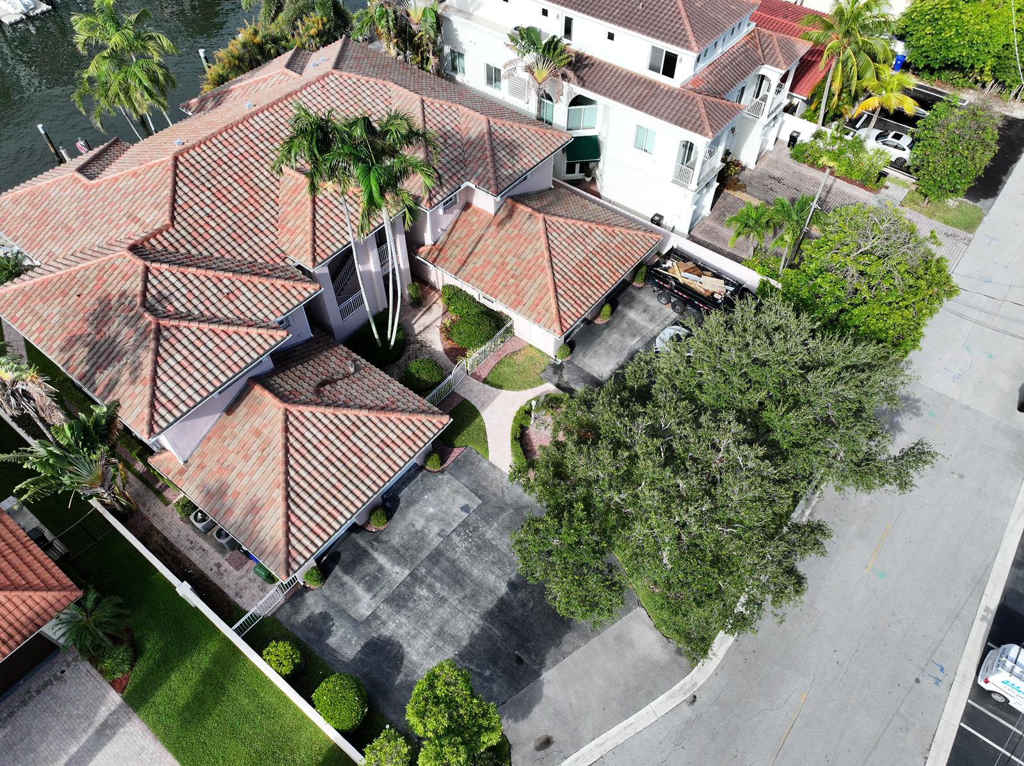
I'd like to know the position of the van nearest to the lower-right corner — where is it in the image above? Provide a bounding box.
[972,643,1024,718]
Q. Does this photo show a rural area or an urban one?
urban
